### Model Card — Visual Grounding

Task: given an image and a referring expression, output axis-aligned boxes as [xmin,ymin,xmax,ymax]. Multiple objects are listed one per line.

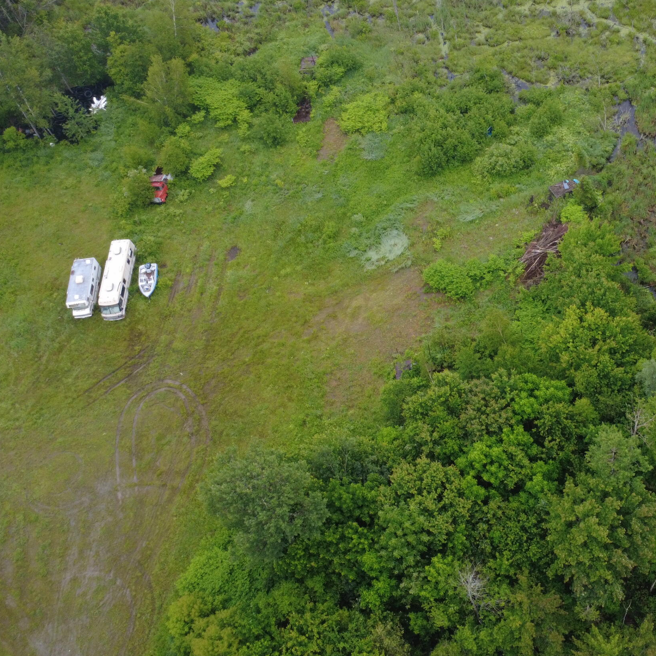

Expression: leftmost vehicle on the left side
[68,258,103,324]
